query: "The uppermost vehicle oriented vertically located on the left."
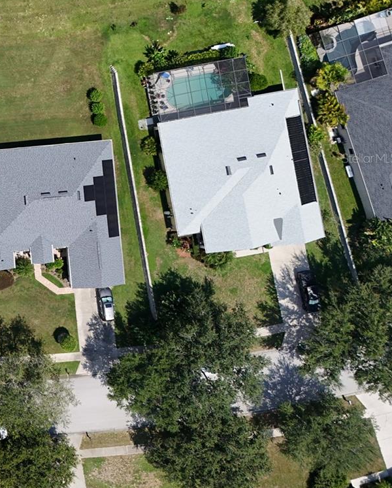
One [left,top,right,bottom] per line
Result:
[98,288,115,324]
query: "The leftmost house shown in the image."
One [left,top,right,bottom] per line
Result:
[0,139,126,289]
